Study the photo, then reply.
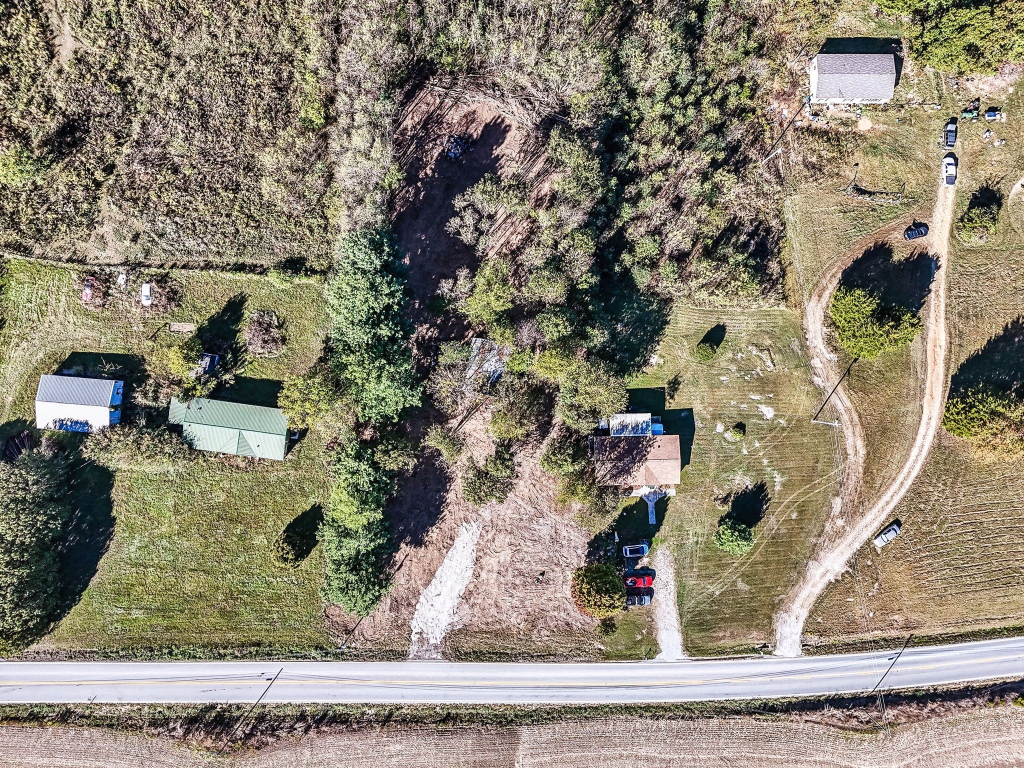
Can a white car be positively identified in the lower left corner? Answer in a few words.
No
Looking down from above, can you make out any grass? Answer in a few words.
Yes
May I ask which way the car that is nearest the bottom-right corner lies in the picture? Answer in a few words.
on a diagonal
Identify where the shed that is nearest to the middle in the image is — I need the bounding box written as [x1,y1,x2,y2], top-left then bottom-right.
[463,337,513,390]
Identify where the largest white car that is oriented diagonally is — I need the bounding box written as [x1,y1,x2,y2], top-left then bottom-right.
[872,521,900,547]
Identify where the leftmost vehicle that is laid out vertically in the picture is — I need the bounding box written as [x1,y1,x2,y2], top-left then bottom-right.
[81,276,95,301]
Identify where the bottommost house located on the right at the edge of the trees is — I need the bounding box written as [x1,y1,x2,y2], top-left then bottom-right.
[594,413,682,487]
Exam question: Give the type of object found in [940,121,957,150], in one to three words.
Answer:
car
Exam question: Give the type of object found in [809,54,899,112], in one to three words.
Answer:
house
